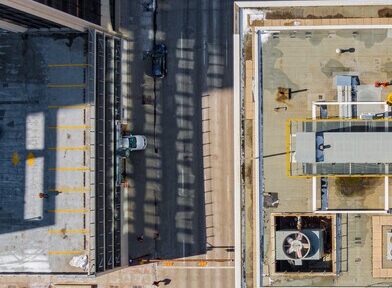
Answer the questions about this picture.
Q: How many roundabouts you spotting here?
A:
0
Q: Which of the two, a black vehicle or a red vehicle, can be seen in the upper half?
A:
black vehicle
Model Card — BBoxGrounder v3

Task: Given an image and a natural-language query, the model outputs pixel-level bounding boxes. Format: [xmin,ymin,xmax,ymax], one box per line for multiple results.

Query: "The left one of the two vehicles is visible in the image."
[123,134,148,151]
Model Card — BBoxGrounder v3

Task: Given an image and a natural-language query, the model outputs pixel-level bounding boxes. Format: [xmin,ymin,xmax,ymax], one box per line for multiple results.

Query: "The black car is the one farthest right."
[150,44,167,78]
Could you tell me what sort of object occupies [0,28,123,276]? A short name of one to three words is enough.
building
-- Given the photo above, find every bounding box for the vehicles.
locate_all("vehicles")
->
[150,44,167,78]
[123,134,148,151]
